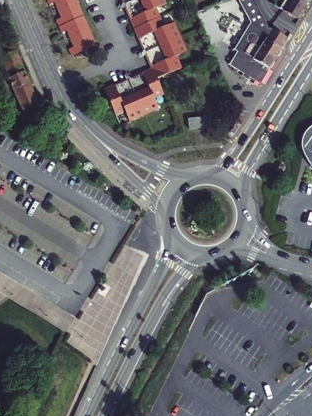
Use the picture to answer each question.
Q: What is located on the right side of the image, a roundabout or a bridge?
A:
roundabout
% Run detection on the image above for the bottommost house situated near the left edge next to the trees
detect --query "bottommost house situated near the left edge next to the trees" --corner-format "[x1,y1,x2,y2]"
[10,72,34,109]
